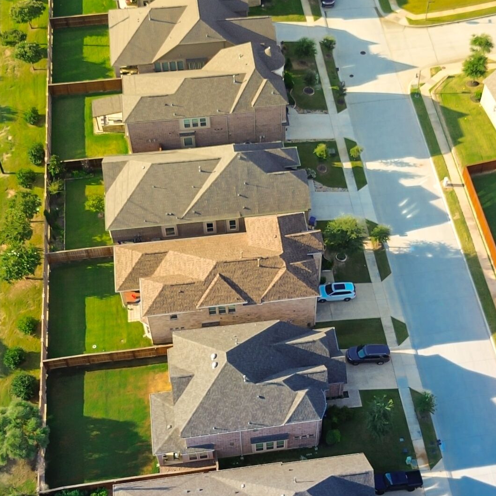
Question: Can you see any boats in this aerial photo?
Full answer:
No, no boat is visible in the view.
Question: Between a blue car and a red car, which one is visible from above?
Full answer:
I can see a blue car in this picture.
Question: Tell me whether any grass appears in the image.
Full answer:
Yes, the picture does contain grass.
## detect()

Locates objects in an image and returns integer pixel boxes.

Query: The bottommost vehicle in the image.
[376,468,428,496]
